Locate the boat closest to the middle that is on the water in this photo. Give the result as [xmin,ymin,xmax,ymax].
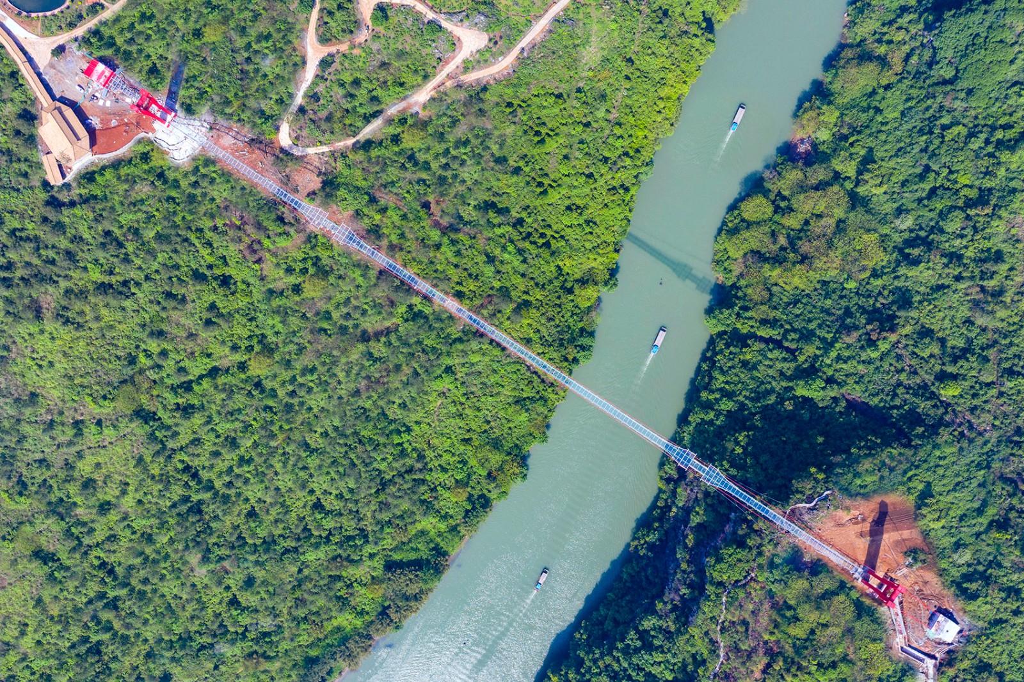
[652,326,666,355]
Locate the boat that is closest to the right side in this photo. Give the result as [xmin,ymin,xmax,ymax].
[731,101,745,132]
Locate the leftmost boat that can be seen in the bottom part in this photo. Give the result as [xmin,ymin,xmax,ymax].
[533,568,548,594]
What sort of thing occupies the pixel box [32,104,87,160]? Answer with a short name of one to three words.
building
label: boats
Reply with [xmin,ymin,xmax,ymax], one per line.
[652,326,666,355]
[731,101,745,132]
[533,568,548,594]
